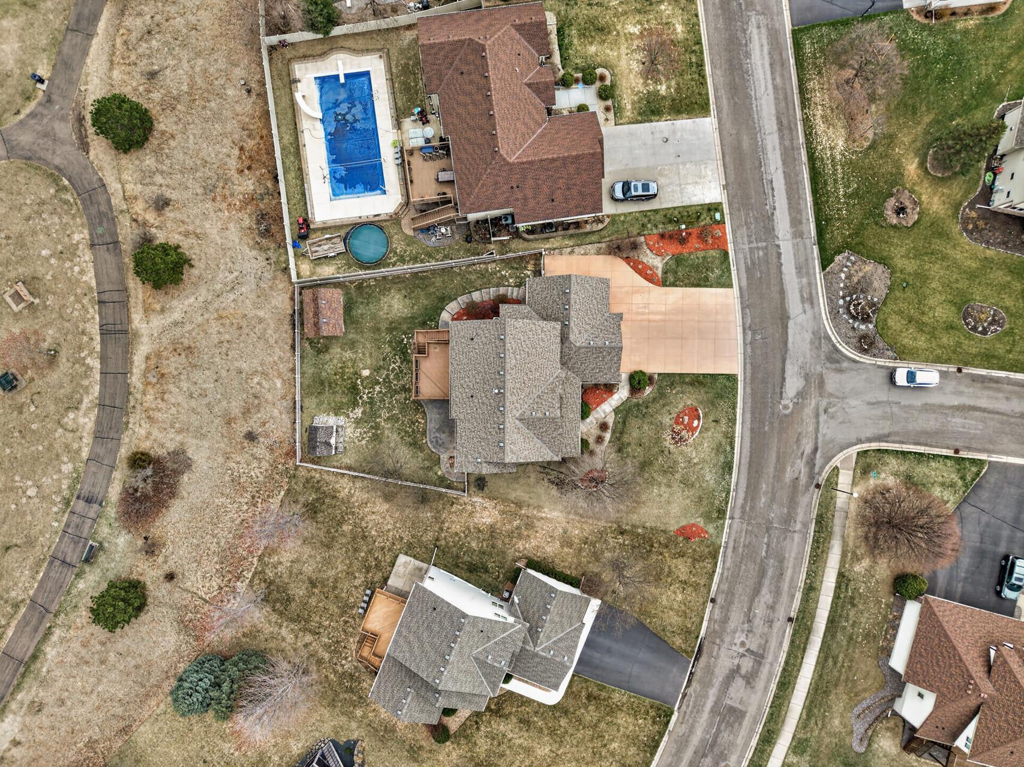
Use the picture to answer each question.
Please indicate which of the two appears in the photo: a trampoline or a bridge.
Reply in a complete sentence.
Looking from above, you can make out a trampoline.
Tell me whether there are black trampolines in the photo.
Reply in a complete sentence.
No, the scene contains no black trampoline.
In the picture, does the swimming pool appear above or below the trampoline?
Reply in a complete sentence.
It's above the trampoline that the swimming pool shows up.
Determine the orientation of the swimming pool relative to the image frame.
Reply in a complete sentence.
Seen from above, the swimming pool lies from top to bottom.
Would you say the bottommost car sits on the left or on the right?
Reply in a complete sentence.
You can find the bottommost car on the right side of the picture.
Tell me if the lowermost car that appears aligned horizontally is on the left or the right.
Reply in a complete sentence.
You can find the lowermost car that appears aligned horizontally on the right side of the picture.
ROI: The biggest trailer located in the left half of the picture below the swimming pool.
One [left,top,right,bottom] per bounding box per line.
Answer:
[302,233,345,259]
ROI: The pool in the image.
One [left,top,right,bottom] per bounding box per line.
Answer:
[305,66,386,201]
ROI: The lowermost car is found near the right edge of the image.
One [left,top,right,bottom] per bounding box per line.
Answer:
[997,551,1024,601]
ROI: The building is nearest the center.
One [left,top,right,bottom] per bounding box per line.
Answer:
[449,274,623,474]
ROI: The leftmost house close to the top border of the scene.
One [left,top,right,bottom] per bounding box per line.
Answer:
[417,0,603,227]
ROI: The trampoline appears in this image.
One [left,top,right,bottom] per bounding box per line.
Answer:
[345,221,390,266]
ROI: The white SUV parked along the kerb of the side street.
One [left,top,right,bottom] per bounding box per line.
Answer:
[887,365,940,389]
